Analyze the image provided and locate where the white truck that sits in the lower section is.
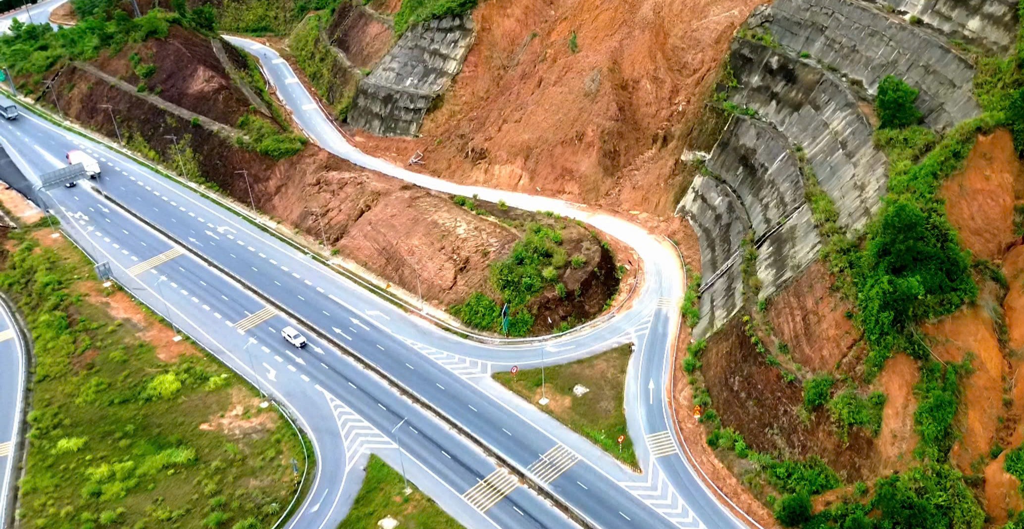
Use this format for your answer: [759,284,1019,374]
[283,325,312,348]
